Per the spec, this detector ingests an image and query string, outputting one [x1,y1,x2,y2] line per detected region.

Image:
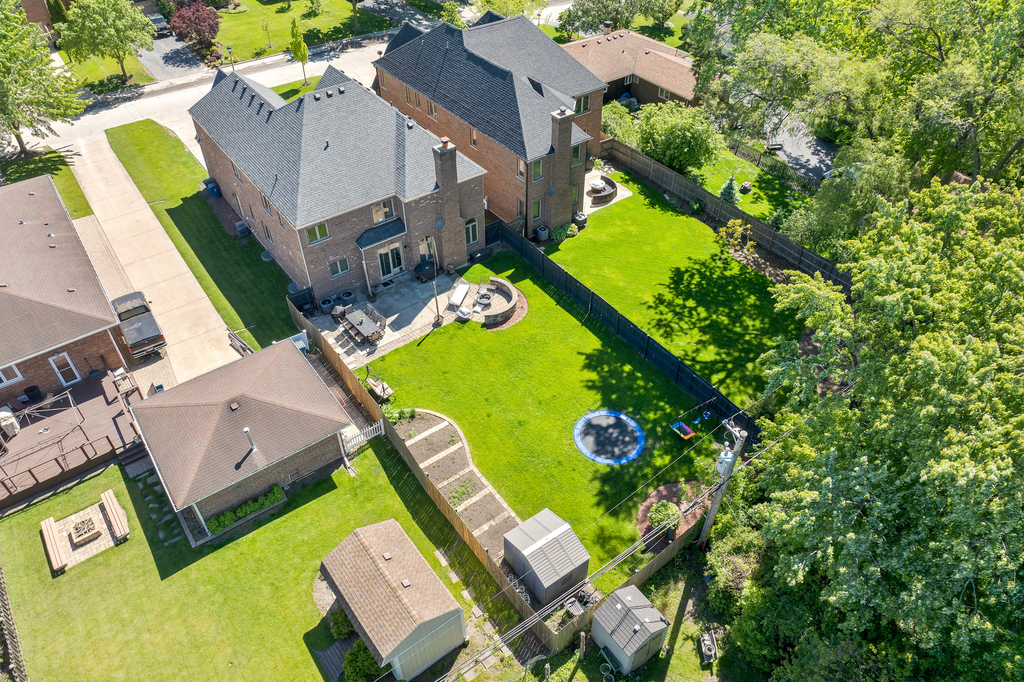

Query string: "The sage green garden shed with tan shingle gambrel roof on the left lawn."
[319,519,466,675]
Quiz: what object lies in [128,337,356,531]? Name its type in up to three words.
building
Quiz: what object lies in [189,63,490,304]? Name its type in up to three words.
house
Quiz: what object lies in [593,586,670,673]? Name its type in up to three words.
shed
